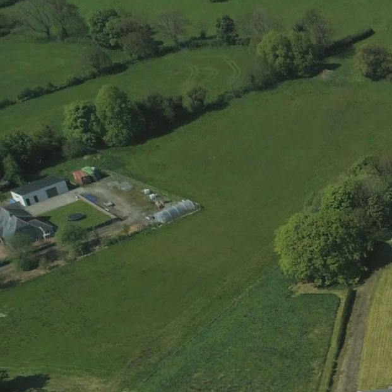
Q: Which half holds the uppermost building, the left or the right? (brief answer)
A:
left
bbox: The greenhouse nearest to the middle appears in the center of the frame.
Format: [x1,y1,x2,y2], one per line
[146,194,197,223]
